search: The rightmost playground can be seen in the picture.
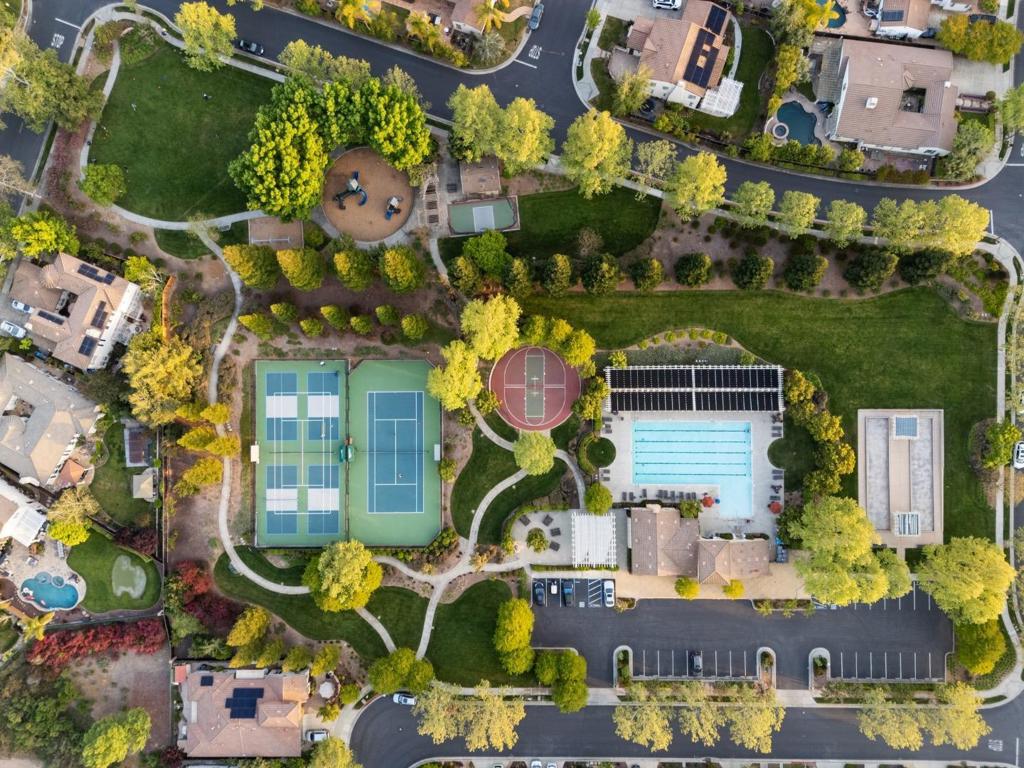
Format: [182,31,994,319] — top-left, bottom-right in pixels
[321,147,415,240]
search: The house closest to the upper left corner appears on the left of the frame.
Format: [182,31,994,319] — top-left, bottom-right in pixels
[10,255,142,368]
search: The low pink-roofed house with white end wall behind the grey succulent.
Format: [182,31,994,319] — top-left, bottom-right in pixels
[452,0,498,38]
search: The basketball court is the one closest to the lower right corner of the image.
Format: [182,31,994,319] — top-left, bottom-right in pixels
[490,346,581,429]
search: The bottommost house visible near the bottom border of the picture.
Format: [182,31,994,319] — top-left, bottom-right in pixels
[187,667,312,757]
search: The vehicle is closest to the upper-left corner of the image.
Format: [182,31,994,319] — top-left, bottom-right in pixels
[239,40,264,56]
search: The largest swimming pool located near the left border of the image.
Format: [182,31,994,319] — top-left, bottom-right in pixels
[17,571,82,612]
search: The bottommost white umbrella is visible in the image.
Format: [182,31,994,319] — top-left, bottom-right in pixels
[319,680,334,696]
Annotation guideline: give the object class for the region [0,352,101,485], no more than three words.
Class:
house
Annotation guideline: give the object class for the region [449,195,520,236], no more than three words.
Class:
sports court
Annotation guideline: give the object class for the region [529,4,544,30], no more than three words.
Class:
car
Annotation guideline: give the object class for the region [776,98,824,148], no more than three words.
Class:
swimming pool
